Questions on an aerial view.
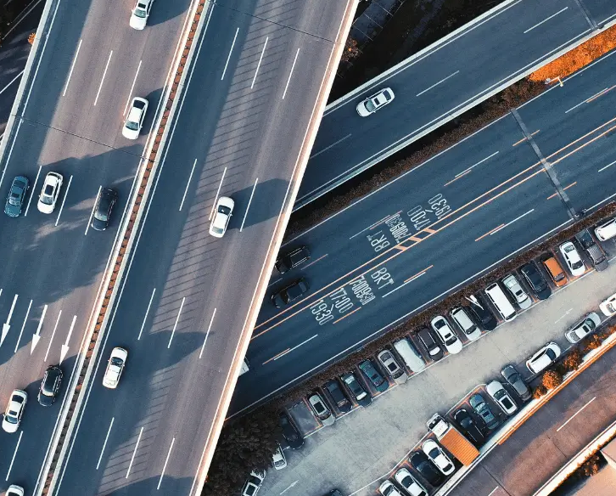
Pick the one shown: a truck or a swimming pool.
truck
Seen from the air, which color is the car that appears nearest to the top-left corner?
white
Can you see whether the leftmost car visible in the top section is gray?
No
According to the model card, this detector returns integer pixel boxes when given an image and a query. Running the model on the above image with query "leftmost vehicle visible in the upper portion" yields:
[5,175,30,217]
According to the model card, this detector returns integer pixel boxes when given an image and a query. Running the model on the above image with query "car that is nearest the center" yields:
[274,244,312,273]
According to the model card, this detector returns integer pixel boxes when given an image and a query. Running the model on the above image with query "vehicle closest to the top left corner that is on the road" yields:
[130,0,153,30]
